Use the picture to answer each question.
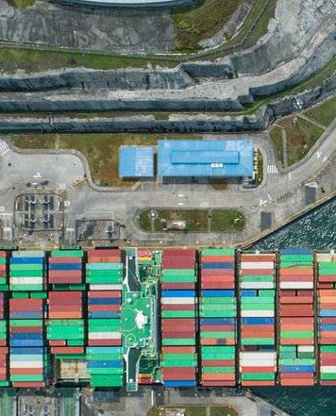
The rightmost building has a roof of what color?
blue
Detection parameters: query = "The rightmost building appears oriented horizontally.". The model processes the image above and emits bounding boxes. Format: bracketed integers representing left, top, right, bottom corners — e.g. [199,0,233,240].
[158,139,253,177]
